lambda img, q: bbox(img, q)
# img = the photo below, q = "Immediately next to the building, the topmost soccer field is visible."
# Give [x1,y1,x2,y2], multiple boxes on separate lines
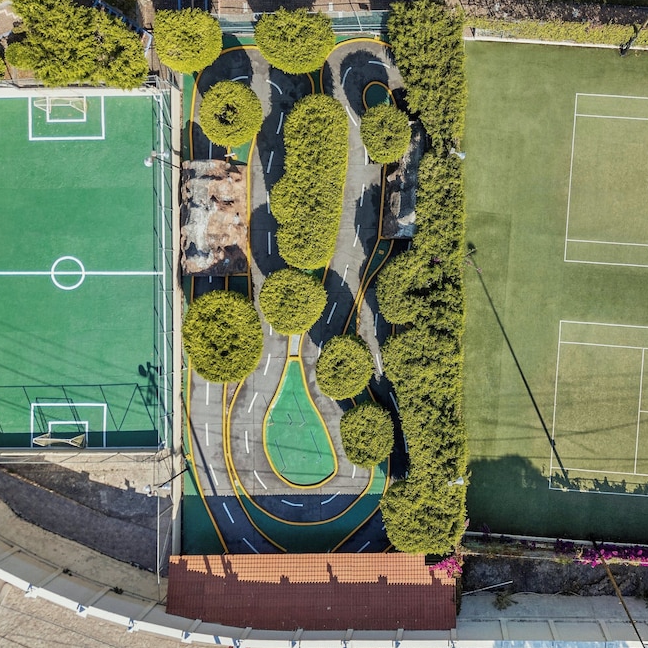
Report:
[0,94,172,444]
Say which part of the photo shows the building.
bottom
